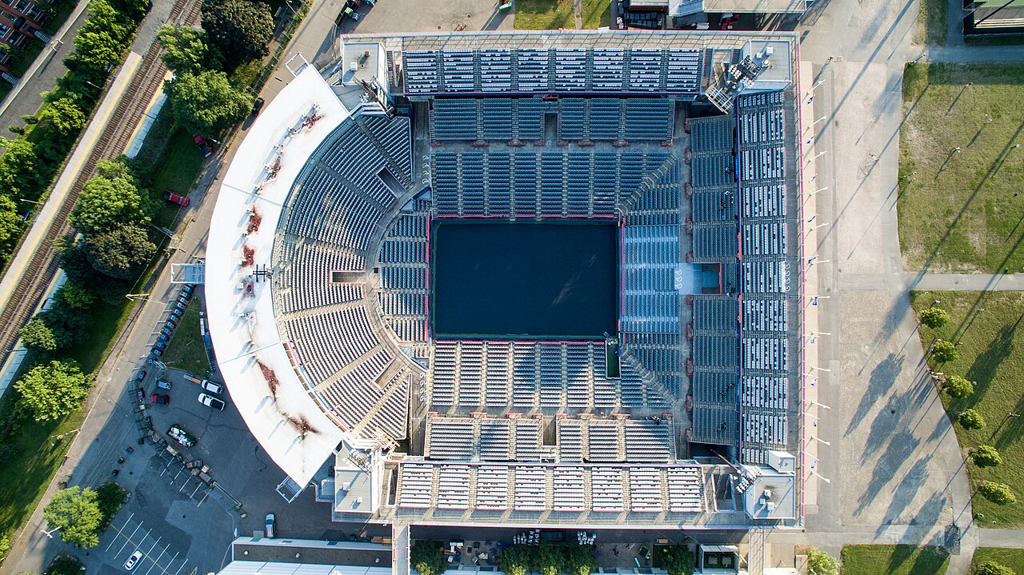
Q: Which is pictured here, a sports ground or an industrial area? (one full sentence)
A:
This looks like a sports ground.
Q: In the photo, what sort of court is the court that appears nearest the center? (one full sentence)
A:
The court that appears nearest the center in the image is a tennis court.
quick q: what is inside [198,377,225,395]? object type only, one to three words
vehicle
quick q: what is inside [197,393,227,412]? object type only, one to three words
vehicle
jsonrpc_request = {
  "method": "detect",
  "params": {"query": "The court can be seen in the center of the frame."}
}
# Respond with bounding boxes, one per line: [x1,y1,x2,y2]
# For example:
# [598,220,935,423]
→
[429,218,621,340]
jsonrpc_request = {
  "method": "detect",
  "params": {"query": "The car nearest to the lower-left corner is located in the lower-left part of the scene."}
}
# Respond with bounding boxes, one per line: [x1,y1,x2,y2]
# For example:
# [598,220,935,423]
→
[123,549,144,572]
